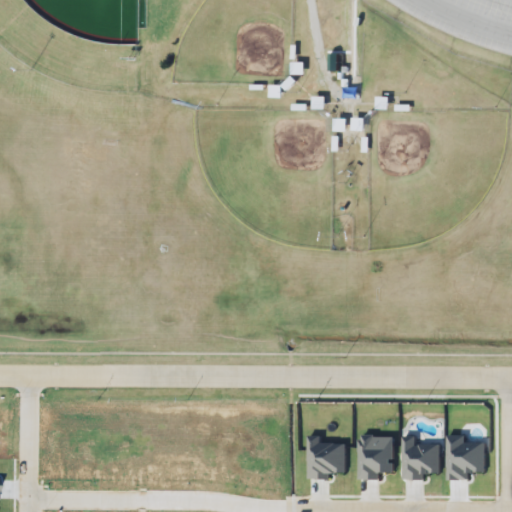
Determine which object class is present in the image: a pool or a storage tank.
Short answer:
pool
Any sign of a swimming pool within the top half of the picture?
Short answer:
No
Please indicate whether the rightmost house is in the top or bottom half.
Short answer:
bottom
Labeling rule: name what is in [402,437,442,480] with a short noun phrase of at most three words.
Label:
house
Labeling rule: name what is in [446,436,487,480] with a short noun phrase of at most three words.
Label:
house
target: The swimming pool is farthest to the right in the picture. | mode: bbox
[460,423,487,444]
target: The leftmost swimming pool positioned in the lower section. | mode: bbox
[403,416,444,446]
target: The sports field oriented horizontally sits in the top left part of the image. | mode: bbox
[26,0,146,44]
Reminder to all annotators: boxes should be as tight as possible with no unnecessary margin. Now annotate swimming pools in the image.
[460,423,487,444]
[403,416,444,446]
